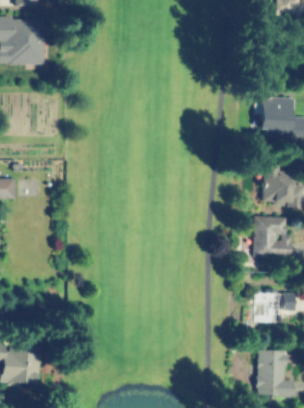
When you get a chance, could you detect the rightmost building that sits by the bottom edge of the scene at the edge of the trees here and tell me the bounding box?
[258,350,296,397]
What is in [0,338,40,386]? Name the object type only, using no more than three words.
house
